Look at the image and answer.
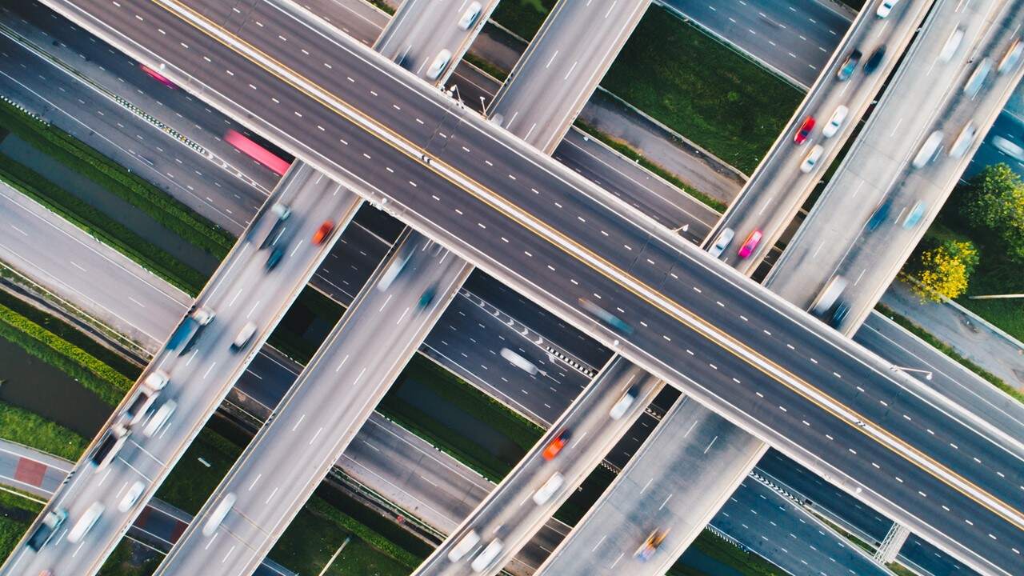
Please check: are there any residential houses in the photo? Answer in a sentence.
No, the frame has no residential house in it.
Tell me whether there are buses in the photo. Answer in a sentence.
Yes, a bus can be made out from above.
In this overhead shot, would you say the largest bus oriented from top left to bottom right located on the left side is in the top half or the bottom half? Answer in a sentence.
The largest bus oriented from top left to bottom right located on the left side is in the top half of the image.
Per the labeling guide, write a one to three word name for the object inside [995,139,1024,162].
vehicle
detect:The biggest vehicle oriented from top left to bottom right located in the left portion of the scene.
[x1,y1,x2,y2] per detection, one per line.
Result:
[223,128,290,177]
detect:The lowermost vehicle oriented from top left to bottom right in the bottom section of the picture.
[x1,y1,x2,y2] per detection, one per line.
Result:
[504,350,535,374]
